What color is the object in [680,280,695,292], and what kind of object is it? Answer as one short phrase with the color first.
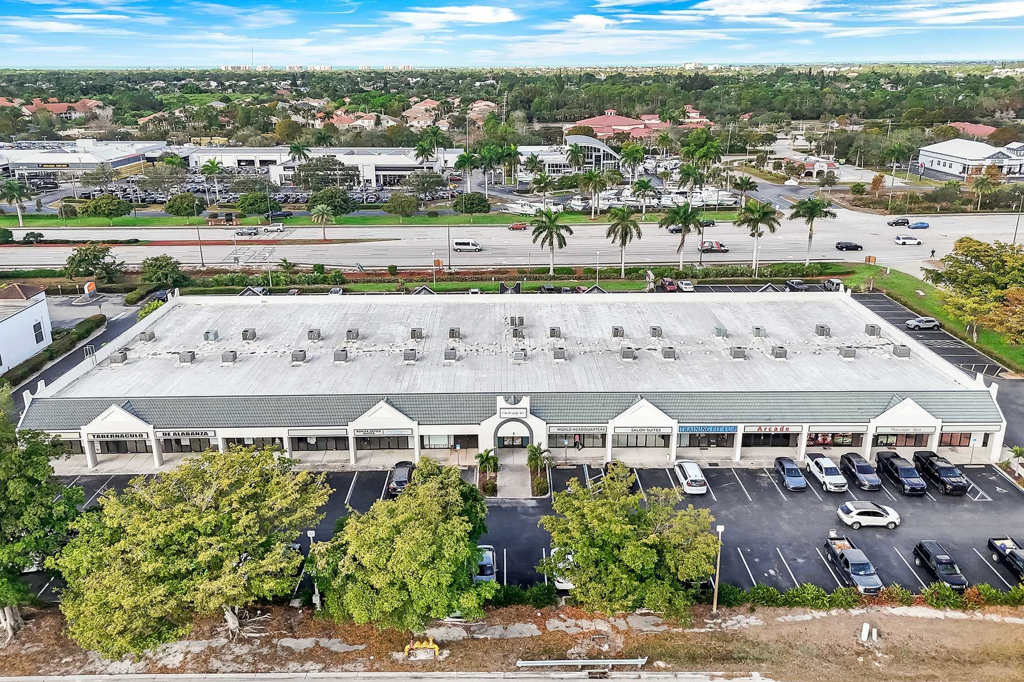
white vehicle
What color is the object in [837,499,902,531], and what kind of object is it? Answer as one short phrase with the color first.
white car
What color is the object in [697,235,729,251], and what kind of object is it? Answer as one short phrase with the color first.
white vehicle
